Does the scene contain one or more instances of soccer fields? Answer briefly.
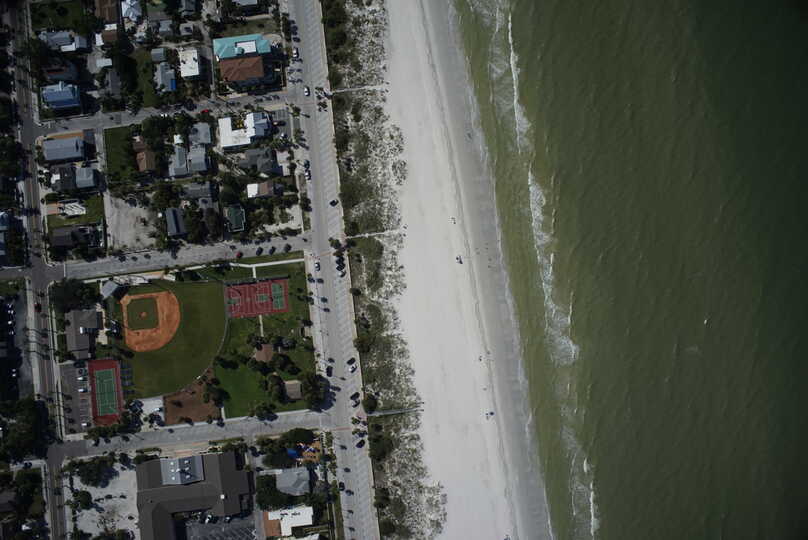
No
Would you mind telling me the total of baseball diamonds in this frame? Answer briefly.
1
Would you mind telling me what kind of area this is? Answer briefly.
beach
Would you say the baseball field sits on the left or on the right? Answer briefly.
left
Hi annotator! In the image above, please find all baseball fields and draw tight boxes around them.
[119,282,227,399]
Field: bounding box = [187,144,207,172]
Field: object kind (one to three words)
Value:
house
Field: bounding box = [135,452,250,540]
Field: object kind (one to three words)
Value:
building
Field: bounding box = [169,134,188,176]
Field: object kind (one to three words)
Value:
house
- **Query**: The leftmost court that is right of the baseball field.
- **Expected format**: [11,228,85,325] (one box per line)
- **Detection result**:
[226,279,290,318]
